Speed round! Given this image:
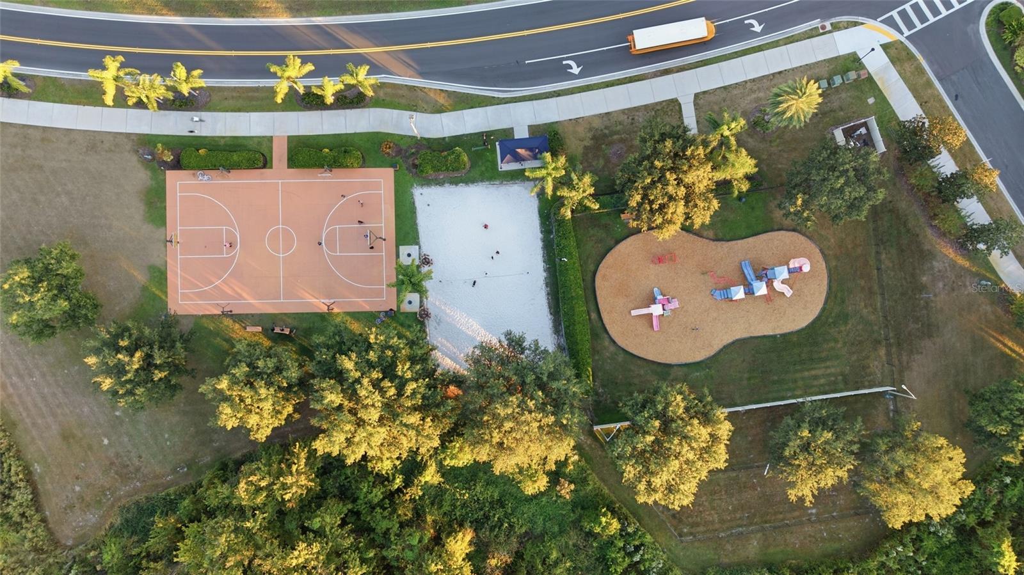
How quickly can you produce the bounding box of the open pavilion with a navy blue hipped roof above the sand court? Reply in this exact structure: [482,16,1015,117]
[497,135,551,171]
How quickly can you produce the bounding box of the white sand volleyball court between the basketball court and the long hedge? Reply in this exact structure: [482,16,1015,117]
[410,180,559,380]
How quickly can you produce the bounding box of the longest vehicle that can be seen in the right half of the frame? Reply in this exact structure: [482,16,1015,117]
[628,14,717,56]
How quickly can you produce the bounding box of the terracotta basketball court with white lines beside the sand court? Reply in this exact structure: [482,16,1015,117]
[166,167,396,314]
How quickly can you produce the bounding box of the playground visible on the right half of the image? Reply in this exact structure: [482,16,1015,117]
[594,229,829,365]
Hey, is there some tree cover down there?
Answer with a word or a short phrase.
Yes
